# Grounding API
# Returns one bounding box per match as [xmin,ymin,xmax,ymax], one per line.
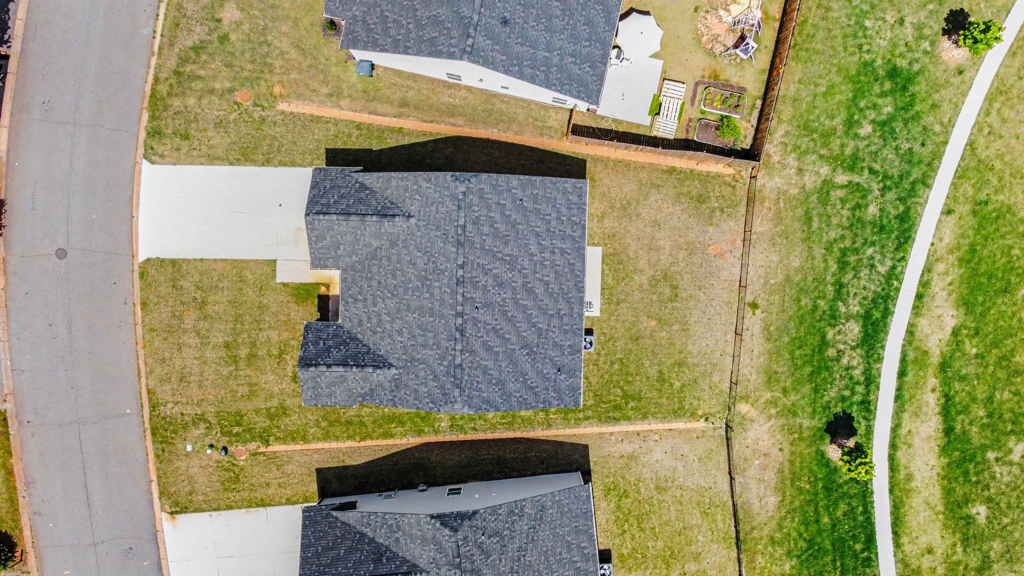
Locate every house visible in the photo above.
[296,166,588,414]
[298,473,602,576]
[323,0,624,120]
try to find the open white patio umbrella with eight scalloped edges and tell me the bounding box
[618,13,663,58]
